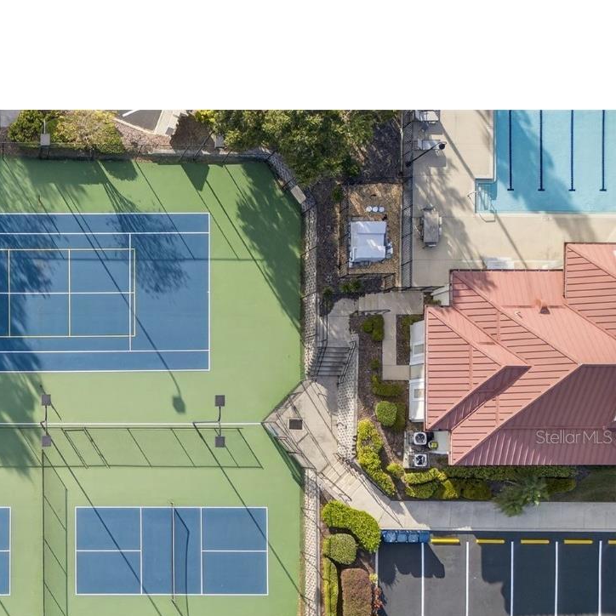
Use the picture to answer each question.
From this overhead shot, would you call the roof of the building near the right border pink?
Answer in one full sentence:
Yes, the roof of the building near the right border is indeed pink.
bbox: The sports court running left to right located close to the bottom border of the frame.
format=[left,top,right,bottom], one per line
[76,507,267,596]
